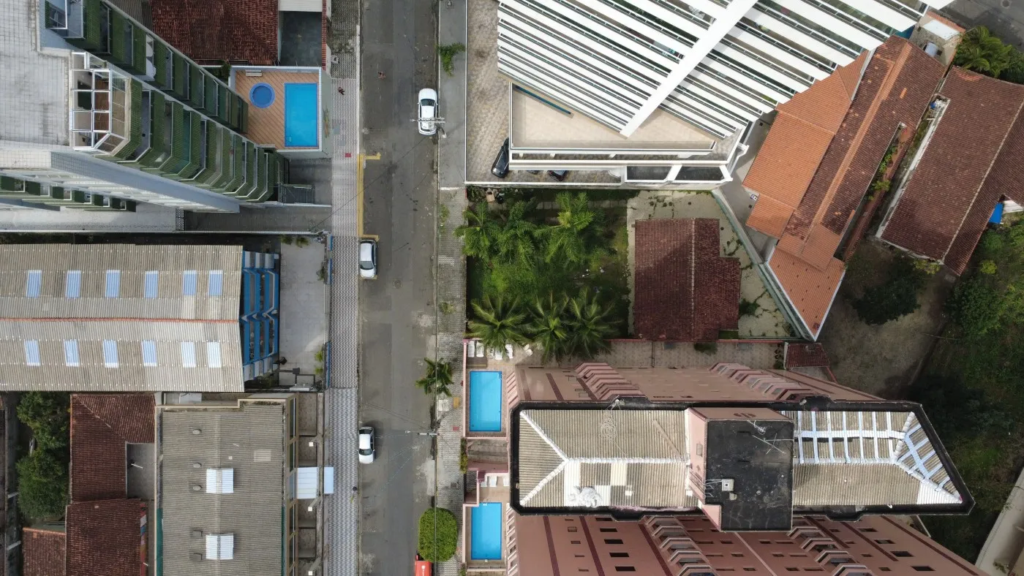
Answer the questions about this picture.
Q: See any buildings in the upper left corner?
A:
Yes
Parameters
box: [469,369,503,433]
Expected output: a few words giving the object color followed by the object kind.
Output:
blue swimming pool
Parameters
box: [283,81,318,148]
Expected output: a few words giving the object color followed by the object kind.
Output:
blue swimming pool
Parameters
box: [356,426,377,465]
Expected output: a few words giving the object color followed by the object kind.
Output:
white car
